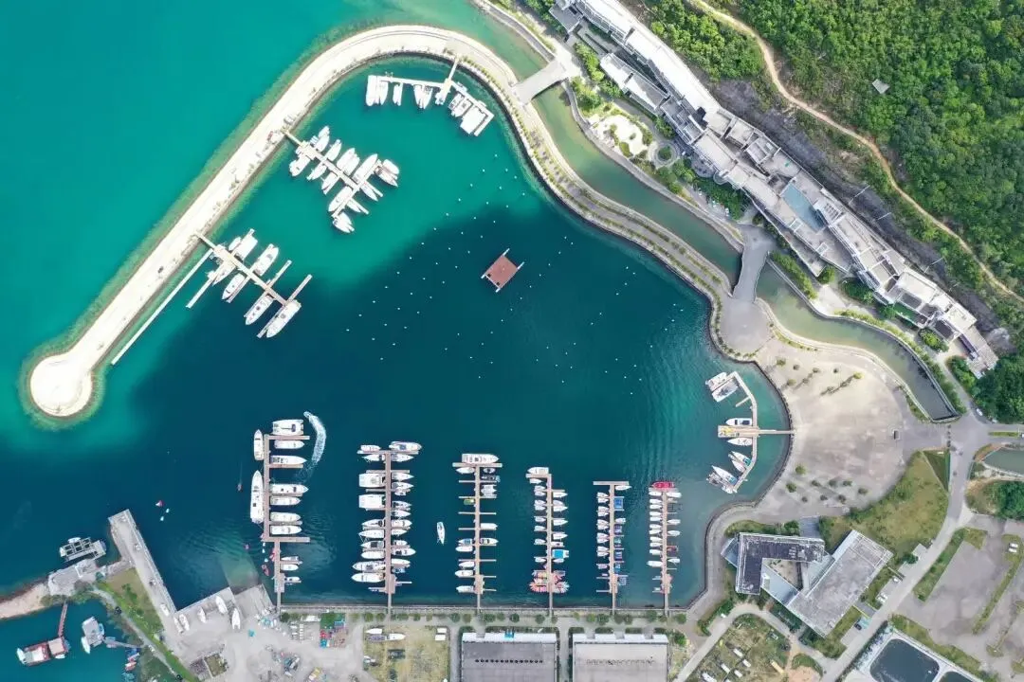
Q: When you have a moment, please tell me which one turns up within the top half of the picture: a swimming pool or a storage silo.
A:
swimming pool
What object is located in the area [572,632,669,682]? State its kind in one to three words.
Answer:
building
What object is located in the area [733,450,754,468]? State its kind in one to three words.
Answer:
boat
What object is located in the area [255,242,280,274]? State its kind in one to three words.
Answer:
boat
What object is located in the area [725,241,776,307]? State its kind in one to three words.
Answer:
bridge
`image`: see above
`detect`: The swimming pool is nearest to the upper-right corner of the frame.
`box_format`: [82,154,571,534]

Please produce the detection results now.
[780,183,826,235]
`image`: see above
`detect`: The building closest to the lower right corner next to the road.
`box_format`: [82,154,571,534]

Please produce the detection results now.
[785,526,894,639]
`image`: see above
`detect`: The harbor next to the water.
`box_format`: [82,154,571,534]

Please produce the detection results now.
[126,65,794,612]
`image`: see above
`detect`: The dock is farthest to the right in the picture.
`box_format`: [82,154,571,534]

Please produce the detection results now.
[709,371,790,493]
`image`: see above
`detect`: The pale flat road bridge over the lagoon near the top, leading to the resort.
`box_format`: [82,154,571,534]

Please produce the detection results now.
[509,55,569,107]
